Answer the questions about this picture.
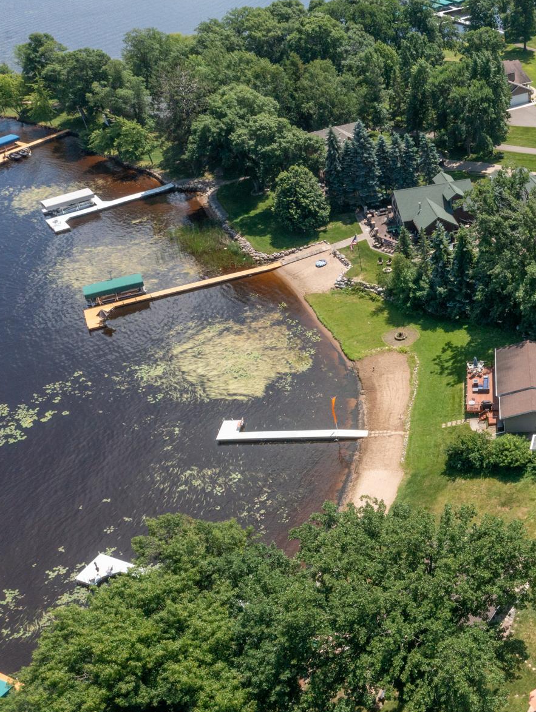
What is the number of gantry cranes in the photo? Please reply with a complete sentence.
Not a single gantry crane can be seen.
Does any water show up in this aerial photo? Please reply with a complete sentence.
Yes, water shows up in the scene.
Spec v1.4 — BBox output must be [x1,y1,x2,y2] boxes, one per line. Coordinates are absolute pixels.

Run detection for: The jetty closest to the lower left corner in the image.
[74,552,150,590]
